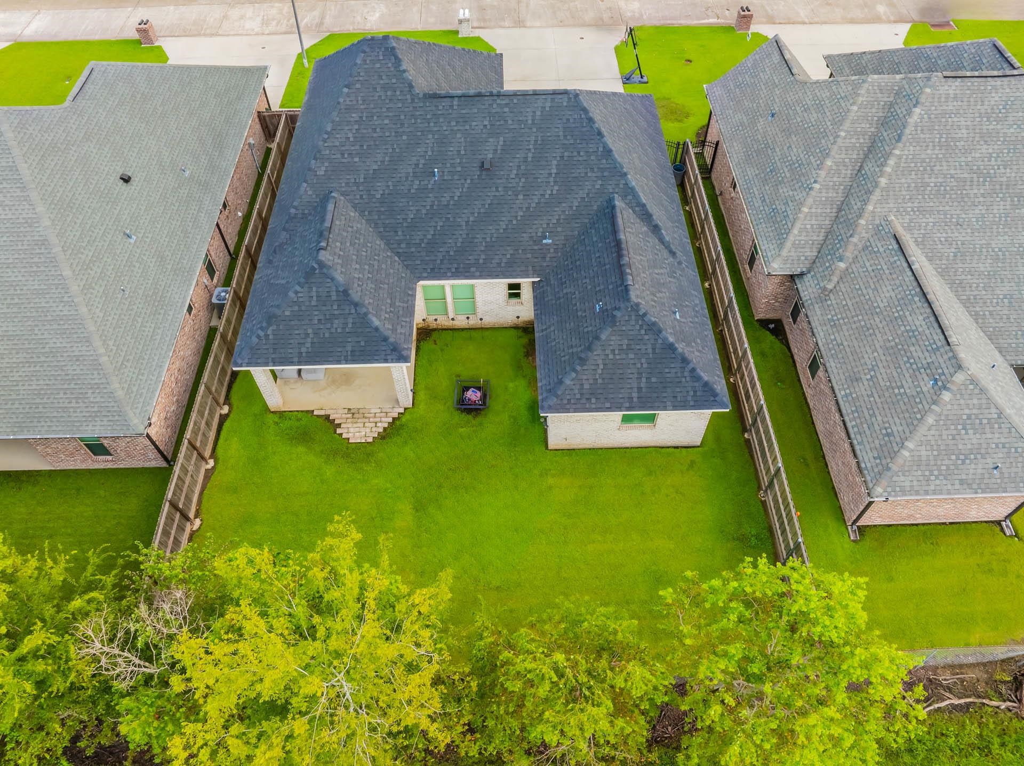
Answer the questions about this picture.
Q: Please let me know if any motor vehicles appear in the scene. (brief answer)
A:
No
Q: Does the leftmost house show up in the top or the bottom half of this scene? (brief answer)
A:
top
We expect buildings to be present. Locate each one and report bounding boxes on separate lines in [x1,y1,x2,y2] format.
[0,60,275,471]
[229,35,732,450]
[698,31,1024,534]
